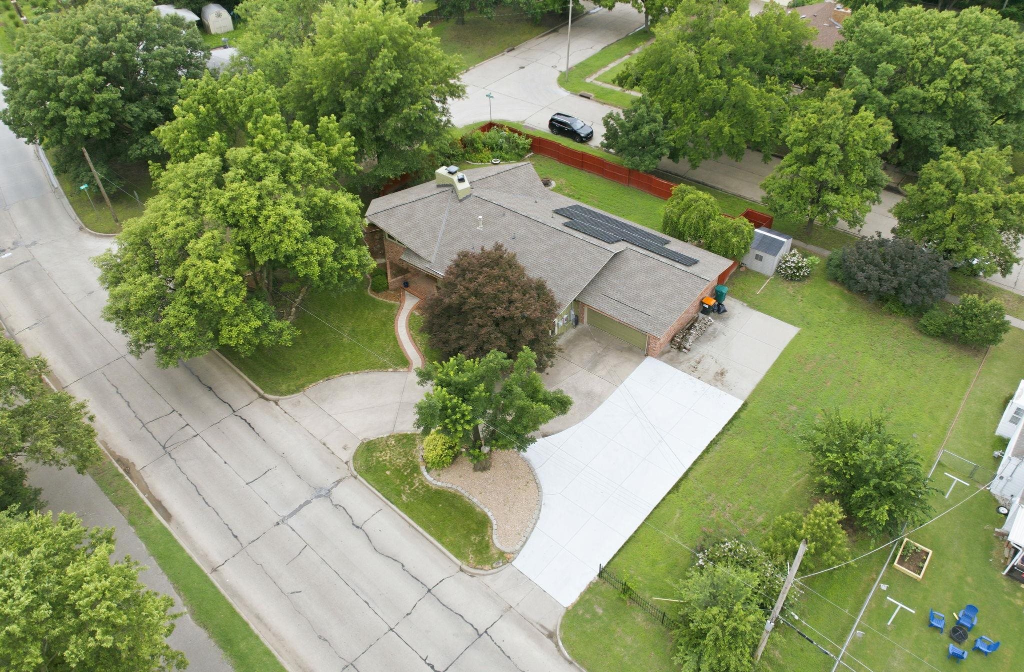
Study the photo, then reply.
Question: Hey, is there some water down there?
No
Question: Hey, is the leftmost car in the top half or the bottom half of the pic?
top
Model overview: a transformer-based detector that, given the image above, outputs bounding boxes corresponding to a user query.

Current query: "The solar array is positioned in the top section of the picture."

[552,204,702,266]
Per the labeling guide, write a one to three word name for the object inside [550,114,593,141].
car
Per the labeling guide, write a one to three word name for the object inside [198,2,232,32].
shed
